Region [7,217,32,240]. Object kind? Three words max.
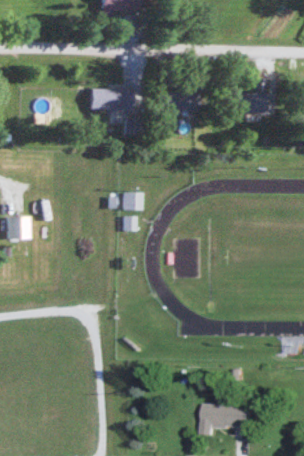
house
